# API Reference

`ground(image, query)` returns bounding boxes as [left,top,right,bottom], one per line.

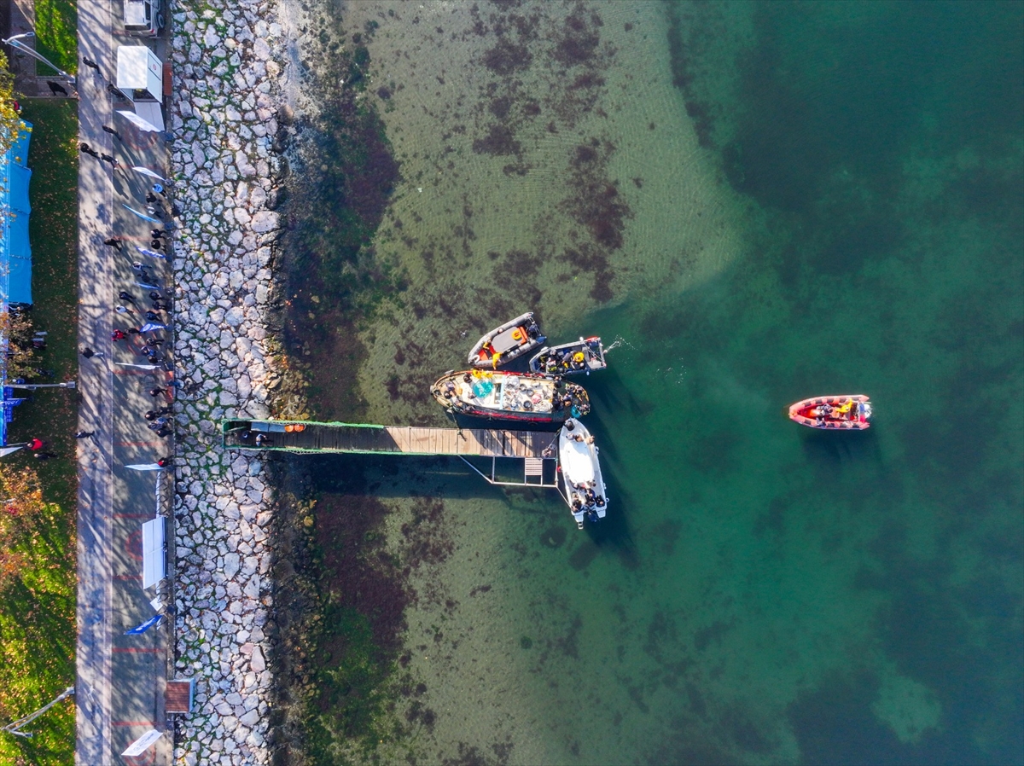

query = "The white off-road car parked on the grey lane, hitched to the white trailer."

[127,0,164,39]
